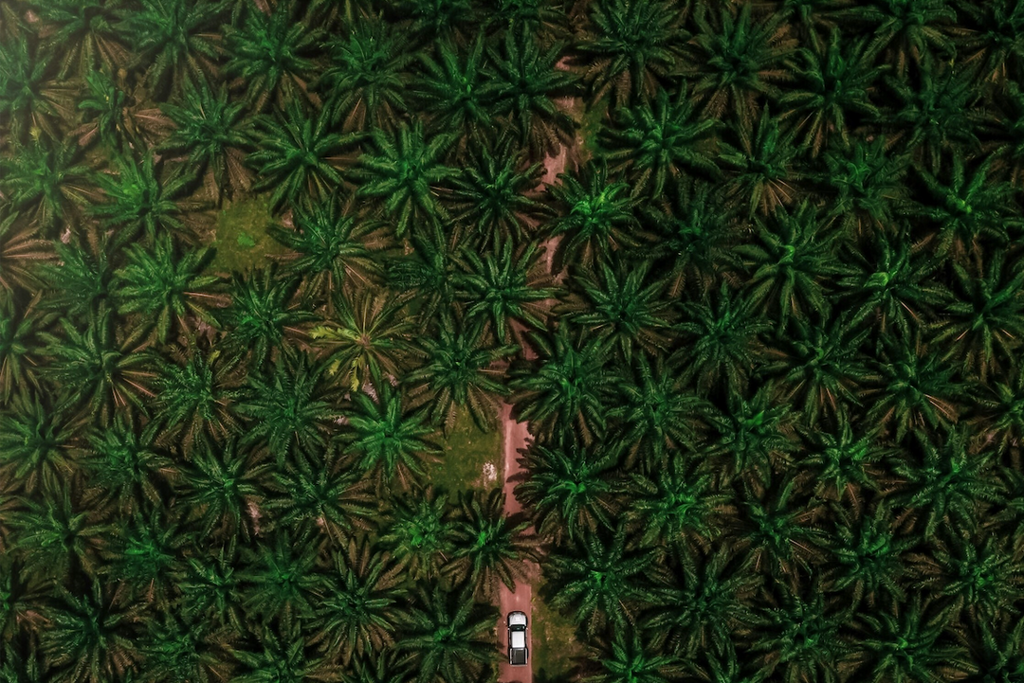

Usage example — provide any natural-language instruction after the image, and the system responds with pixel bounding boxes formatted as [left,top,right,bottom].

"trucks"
[506,613,529,666]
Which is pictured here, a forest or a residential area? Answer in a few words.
forest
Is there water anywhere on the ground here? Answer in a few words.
No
